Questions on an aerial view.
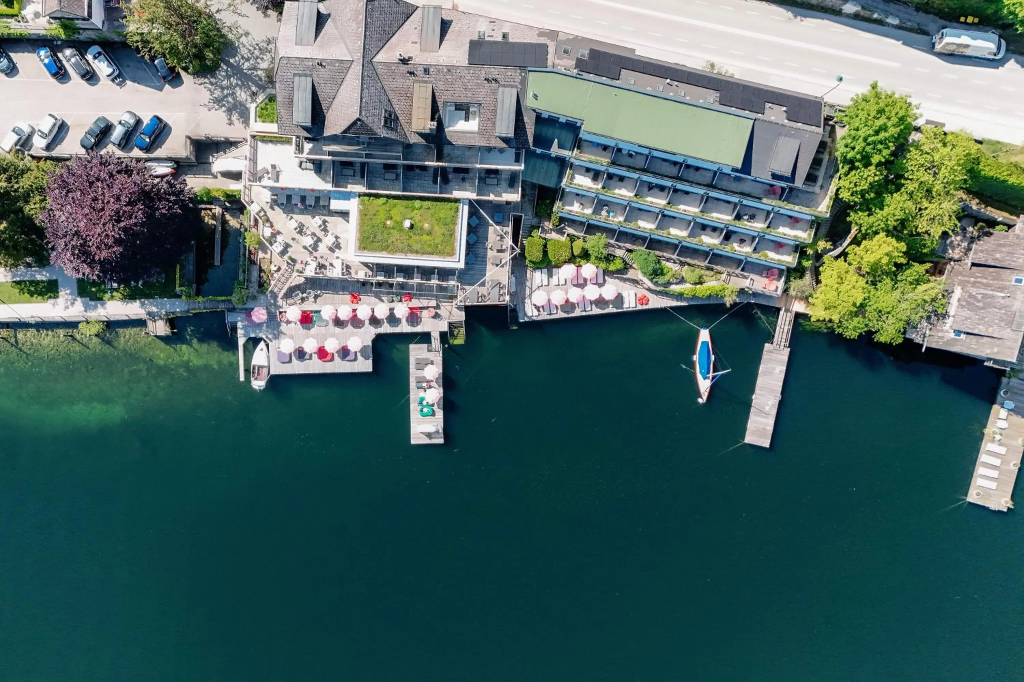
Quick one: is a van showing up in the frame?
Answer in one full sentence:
Yes, the image includes a van.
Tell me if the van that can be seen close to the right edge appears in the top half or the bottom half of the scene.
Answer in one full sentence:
The van that can be seen close to the right edge is in the top half of the image.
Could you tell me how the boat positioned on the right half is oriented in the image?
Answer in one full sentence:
In this picture, the boat positioned on the right half is oriented up and down.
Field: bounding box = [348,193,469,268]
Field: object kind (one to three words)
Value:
building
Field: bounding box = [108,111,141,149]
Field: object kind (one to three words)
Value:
car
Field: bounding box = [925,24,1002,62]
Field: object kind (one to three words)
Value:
van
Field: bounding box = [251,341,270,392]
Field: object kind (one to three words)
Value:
boat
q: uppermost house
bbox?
[42,0,116,33]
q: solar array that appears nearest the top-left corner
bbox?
[468,39,547,67]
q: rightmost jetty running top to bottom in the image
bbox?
[966,377,1024,511]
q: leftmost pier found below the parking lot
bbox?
[145,319,174,336]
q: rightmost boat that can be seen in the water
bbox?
[693,328,731,403]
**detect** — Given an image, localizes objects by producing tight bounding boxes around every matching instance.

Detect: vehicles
[150,56,178,87]
[925,24,1002,62]
[78,113,111,149]
[31,111,64,150]
[132,113,167,153]
[84,45,122,84]
[34,45,68,82]
[61,45,95,84]
[108,111,141,149]
[0,117,35,154]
